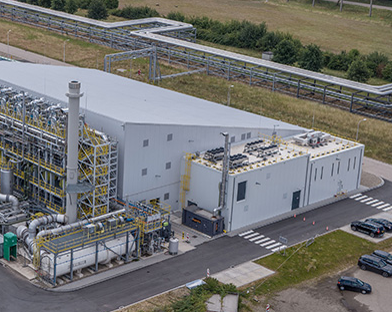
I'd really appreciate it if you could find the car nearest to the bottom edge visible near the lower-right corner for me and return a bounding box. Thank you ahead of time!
[336,274,371,293]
